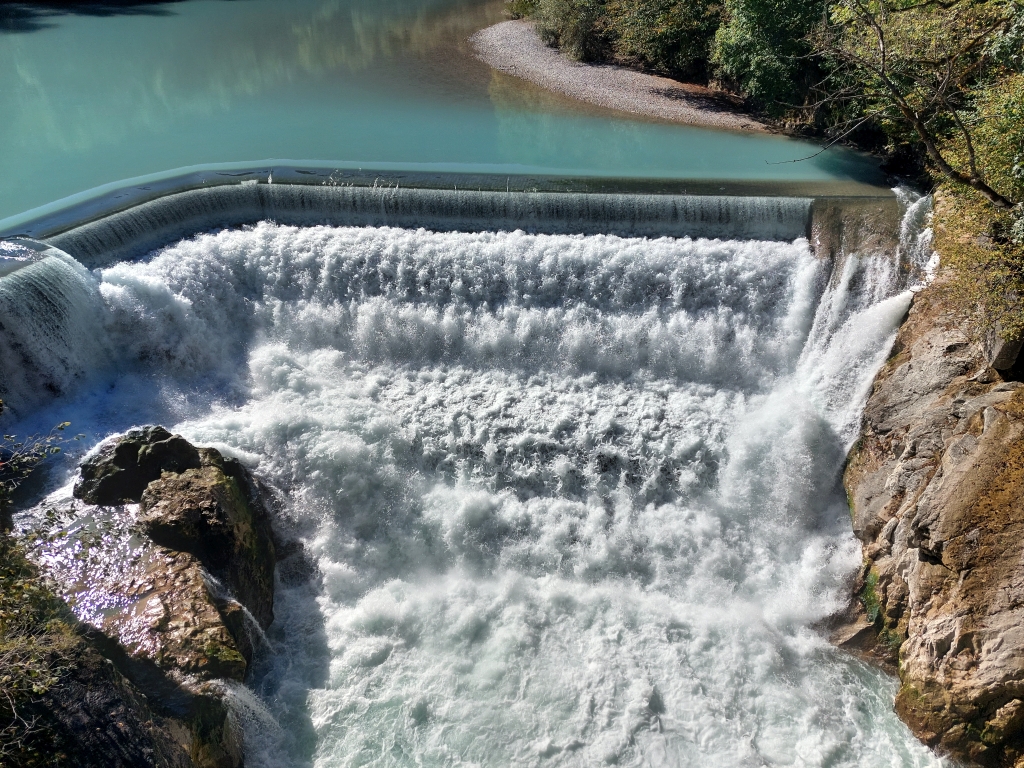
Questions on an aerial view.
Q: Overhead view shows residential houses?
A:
No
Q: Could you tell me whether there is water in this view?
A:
Yes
